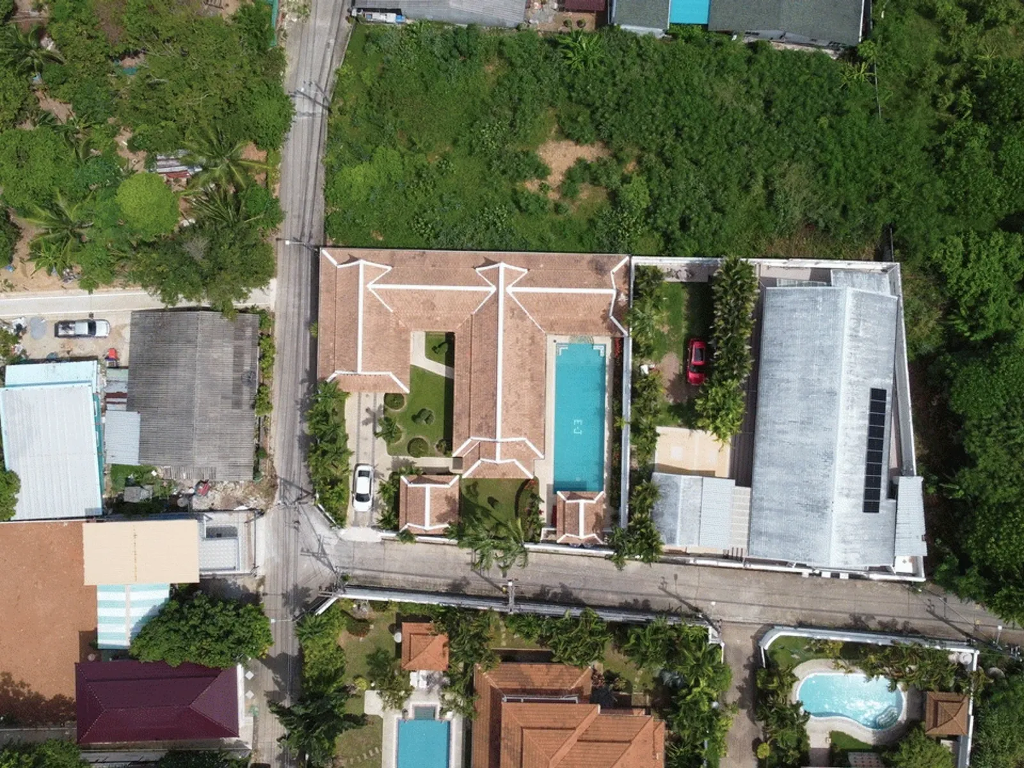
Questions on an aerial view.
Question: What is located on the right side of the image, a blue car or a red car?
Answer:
red car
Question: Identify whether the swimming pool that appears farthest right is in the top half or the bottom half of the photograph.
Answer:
bottom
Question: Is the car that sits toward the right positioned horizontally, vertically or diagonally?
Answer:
vertically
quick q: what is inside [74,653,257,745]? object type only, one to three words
house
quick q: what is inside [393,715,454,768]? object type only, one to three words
swimming pool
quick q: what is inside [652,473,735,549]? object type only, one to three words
building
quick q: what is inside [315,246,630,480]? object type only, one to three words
house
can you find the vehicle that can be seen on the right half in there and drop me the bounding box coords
[685,339,709,385]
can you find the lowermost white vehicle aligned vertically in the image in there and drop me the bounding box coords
[349,464,373,512]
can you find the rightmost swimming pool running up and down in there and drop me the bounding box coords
[552,335,608,495]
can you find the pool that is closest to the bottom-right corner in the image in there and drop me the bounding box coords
[797,669,906,733]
